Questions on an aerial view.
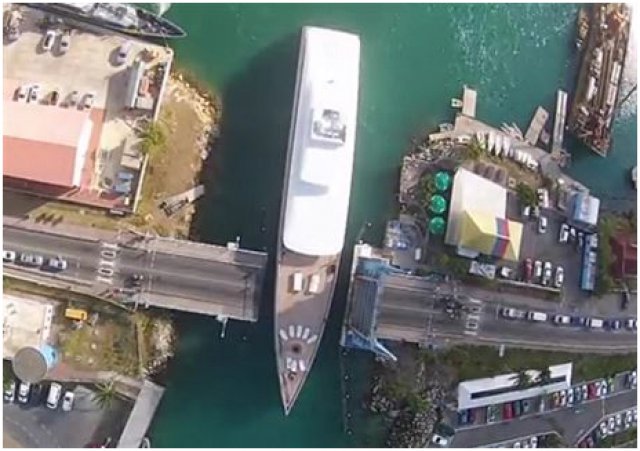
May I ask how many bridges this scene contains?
two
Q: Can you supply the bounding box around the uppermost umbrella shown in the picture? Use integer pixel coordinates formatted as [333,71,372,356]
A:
[432,172,449,190]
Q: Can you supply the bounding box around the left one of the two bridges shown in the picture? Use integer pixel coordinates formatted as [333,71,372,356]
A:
[142,233,269,321]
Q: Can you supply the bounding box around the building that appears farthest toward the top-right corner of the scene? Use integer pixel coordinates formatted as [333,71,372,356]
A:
[564,193,600,236]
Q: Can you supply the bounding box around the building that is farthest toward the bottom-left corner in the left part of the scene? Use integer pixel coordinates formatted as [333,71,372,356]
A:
[0,292,54,355]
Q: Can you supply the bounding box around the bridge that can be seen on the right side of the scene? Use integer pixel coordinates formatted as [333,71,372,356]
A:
[341,251,432,363]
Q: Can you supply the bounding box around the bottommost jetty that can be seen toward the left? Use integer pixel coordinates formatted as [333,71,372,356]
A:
[158,186,206,211]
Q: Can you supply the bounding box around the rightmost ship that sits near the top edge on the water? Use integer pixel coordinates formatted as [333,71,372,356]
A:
[568,0,631,159]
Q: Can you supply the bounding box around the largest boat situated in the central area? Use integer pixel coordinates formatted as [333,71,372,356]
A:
[274,29,361,413]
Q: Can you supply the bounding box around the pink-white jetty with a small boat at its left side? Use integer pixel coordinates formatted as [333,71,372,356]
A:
[462,86,479,117]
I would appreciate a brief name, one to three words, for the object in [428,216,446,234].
umbrella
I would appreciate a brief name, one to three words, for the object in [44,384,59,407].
vehicle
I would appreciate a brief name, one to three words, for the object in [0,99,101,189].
building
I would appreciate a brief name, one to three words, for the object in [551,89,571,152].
pier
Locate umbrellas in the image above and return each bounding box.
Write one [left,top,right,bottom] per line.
[428,216,446,234]
[429,196,446,212]
[432,172,449,190]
